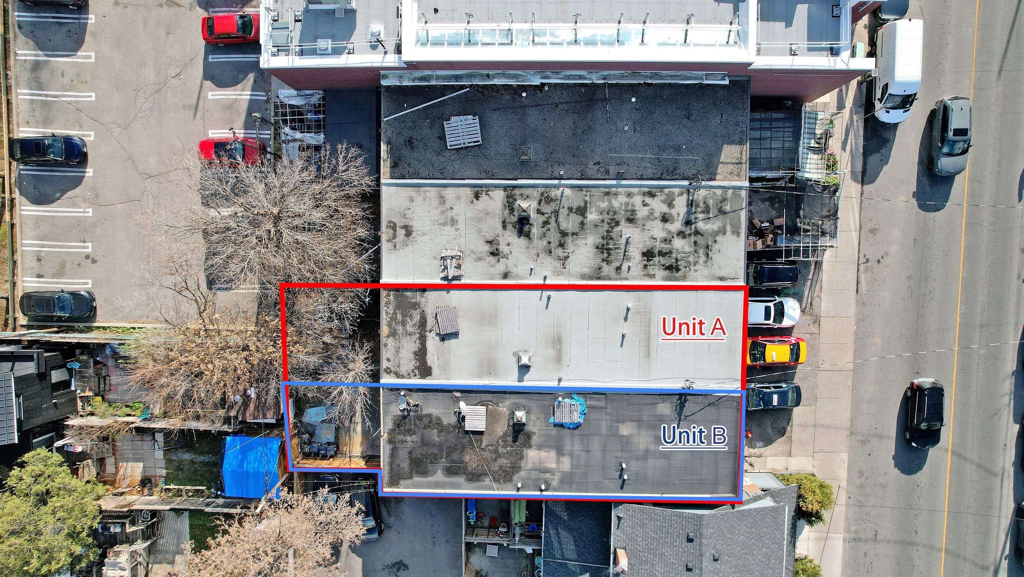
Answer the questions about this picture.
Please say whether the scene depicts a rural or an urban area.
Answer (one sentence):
This place is urban.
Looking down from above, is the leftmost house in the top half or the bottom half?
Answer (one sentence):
You can find the leftmost house in the bottom half.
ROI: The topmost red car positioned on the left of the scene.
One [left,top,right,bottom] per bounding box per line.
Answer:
[201,10,260,46]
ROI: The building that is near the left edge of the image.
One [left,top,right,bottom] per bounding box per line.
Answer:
[0,343,79,445]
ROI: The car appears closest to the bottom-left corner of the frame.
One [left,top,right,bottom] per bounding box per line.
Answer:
[17,287,101,321]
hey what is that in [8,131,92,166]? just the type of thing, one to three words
car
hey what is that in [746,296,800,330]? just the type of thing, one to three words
car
